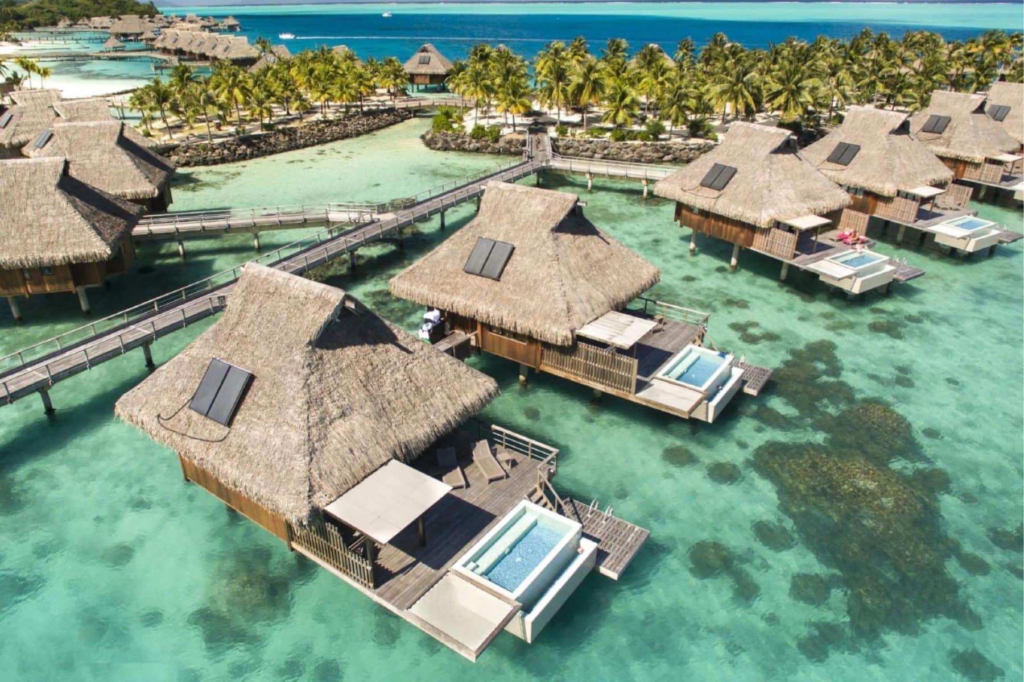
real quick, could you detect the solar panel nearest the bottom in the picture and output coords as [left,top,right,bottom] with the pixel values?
[172,355,253,439]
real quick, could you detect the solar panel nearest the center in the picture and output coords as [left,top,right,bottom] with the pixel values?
[459,245,507,288]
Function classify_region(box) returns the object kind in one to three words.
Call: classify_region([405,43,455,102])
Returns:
house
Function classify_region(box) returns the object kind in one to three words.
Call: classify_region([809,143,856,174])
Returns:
solar panel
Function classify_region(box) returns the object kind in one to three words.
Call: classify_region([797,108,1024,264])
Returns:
house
